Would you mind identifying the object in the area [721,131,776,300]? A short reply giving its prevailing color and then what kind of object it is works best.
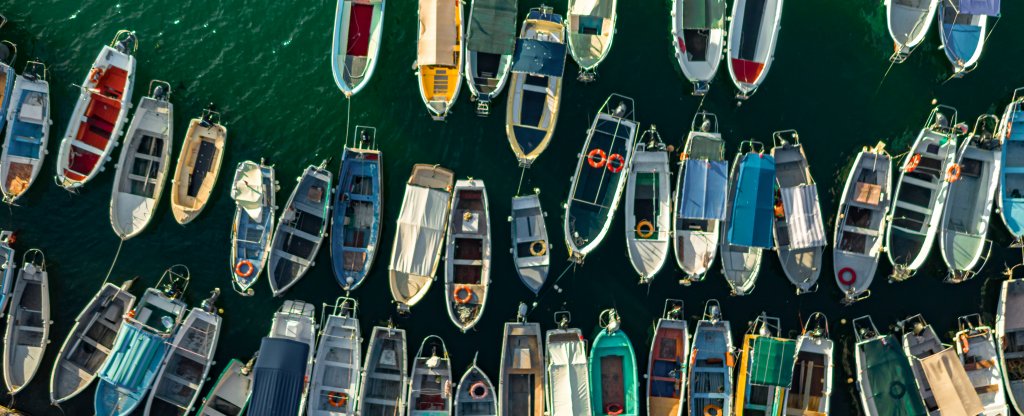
blue boat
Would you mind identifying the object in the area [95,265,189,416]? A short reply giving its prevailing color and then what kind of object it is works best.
blue boat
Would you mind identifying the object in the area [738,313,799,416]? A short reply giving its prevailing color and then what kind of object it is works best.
green boat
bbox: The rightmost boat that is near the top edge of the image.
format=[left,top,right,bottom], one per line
[935,0,1001,76]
